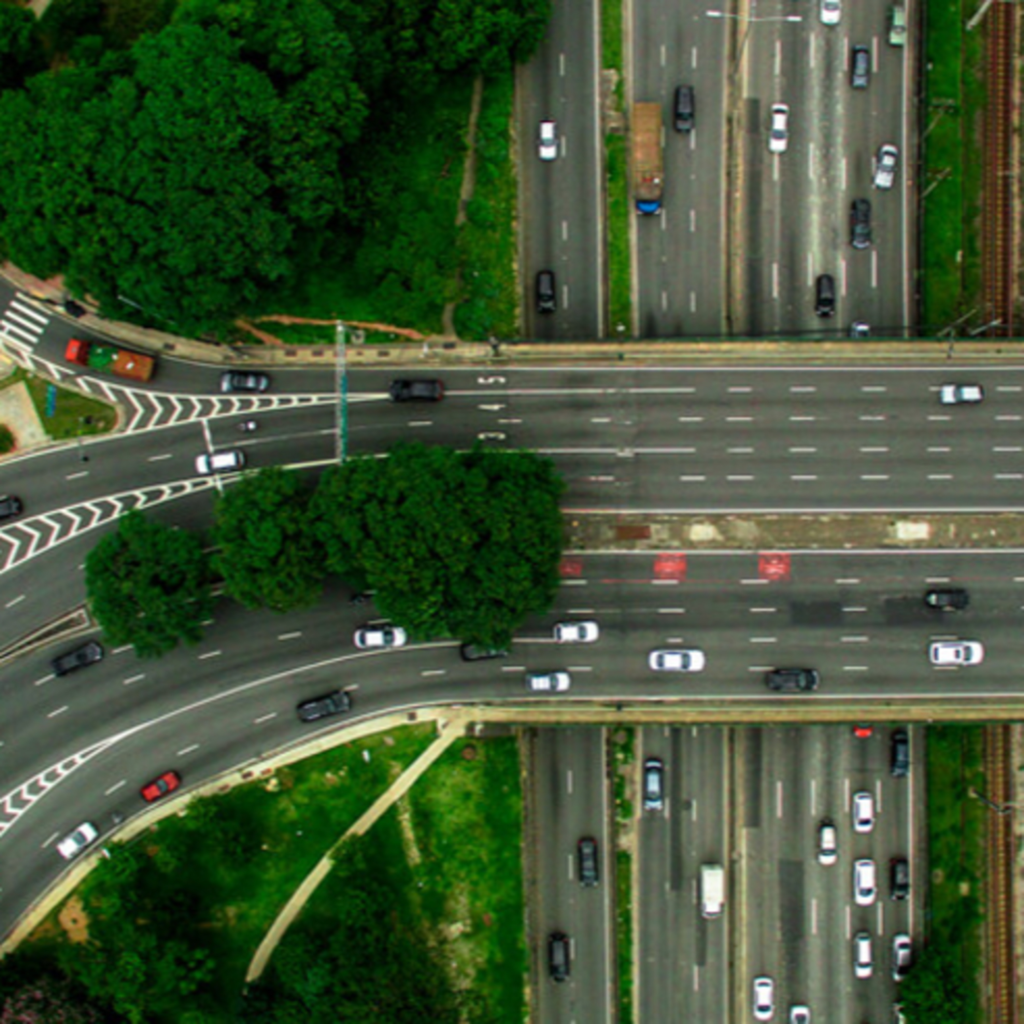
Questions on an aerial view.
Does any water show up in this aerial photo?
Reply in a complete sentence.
No, the scene doesn't show any water.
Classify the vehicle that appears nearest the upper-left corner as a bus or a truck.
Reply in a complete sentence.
Looking closely, the vehicle that appears nearest the upper-left corner is a truck.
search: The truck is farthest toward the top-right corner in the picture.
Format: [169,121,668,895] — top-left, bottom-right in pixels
[887,4,909,47]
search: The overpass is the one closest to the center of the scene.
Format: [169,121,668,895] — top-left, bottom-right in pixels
[489,336,1024,727]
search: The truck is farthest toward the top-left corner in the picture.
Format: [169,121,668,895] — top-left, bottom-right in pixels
[64,334,158,382]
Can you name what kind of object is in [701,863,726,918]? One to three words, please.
vehicle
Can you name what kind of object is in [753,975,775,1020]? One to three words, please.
car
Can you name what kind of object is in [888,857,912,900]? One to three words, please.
car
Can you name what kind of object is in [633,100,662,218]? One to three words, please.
truck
